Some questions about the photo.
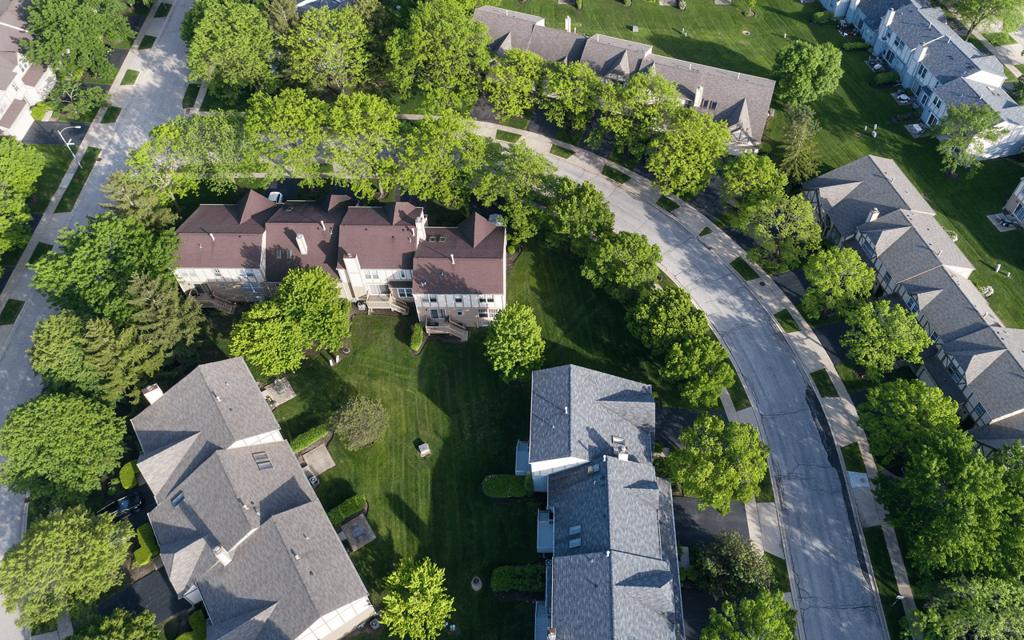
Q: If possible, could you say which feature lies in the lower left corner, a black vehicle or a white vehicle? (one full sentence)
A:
There is a black vehicle in the lower left corner.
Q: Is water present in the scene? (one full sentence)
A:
No, the picture contains no water.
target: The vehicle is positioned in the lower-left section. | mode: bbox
[98,486,144,518]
